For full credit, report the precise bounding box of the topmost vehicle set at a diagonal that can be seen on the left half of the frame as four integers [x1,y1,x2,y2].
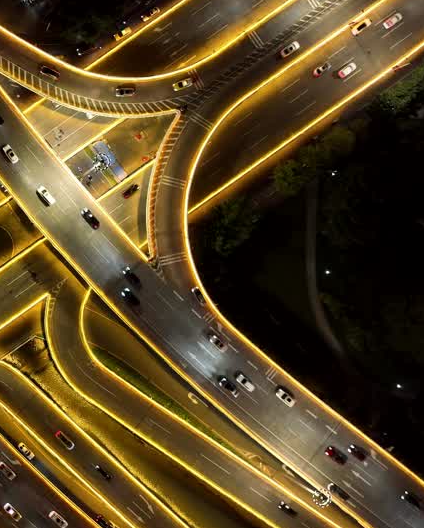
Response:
[144,3,162,19]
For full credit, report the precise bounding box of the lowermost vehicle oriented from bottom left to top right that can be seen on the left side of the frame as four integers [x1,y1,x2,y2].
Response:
[121,183,140,198]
